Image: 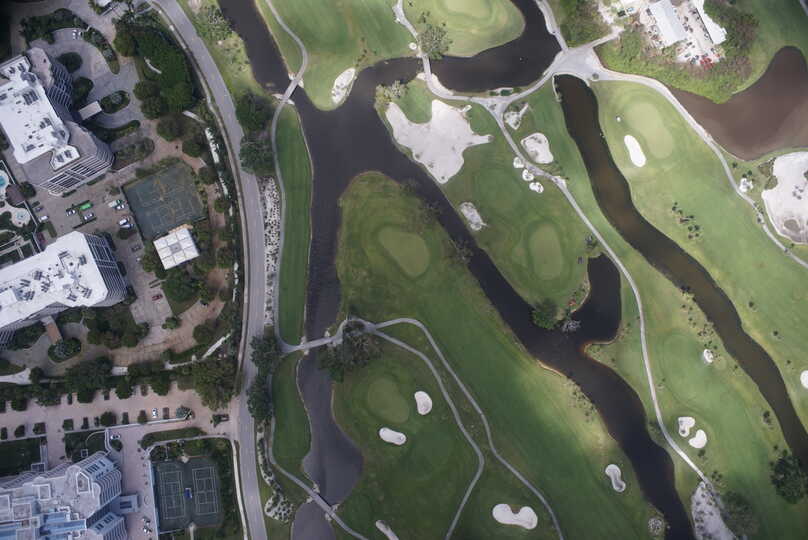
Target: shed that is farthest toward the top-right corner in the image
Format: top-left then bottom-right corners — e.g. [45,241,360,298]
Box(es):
[690,0,726,46]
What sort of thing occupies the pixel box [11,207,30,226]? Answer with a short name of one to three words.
swimming pool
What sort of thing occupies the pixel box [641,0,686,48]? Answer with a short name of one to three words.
shed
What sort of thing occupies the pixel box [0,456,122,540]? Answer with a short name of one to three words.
building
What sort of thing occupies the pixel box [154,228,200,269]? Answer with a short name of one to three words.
building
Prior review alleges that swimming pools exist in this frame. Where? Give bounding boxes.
[11,207,30,226]
[0,171,9,193]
